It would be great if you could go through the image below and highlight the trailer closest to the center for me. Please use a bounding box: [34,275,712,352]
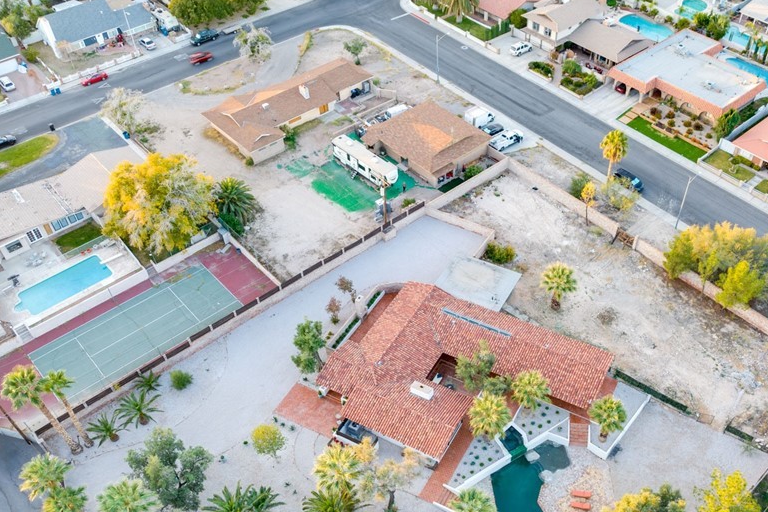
[332,136,399,187]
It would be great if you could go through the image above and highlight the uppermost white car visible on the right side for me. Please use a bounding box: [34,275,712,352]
[509,40,533,55]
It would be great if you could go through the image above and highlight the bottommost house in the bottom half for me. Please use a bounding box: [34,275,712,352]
[316,282,610,469]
